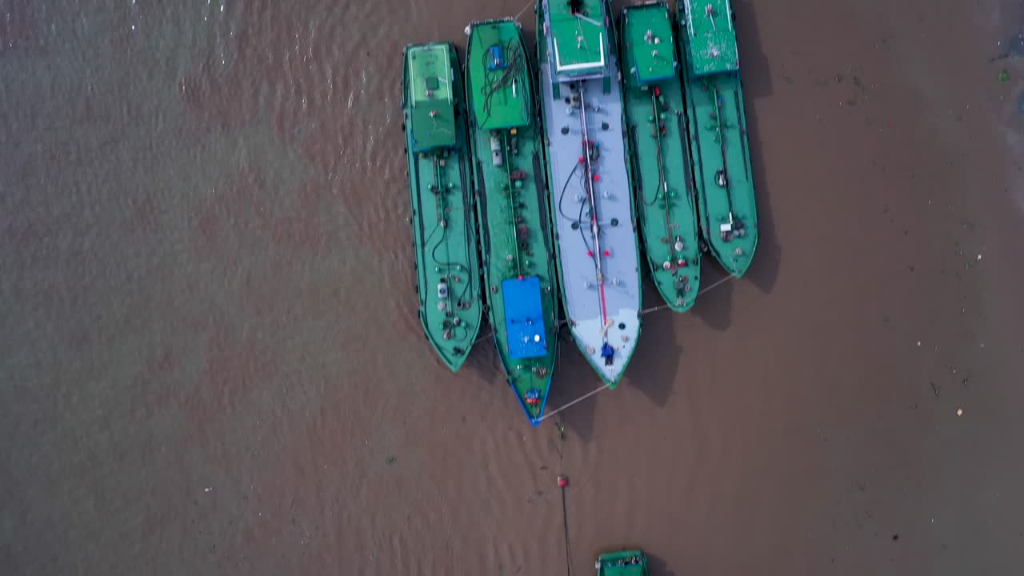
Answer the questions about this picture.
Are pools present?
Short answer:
No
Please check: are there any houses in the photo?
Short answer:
No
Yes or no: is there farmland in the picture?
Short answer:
No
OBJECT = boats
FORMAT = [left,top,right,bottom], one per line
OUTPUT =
[673,0,758,279]
[536,0,643,390]
[401,42,482,373]
[465,17,559,427]
[596,547,648,576]
[619,2,702,313]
